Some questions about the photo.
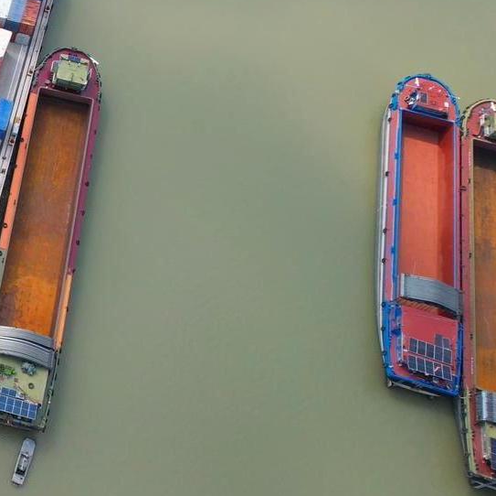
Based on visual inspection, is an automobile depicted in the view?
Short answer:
No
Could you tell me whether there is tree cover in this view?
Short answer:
No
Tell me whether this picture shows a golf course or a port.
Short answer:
port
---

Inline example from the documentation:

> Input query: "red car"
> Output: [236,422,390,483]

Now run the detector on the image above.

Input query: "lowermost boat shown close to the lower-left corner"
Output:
[12,437,36,487]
